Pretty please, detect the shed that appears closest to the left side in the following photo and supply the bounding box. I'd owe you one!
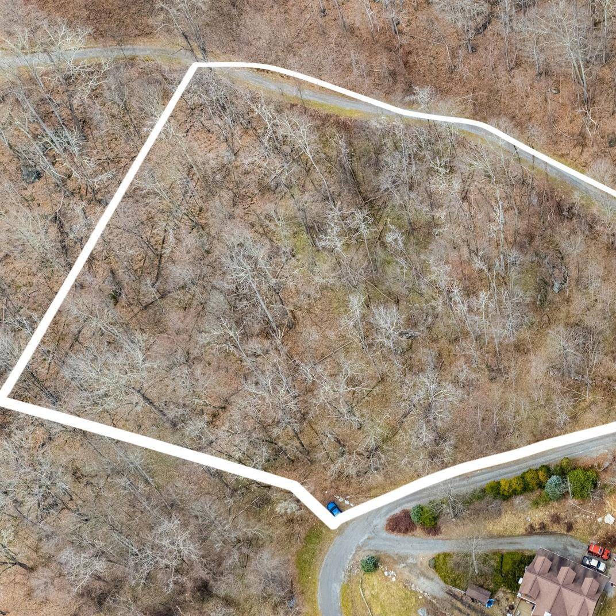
[464,584,492,606]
